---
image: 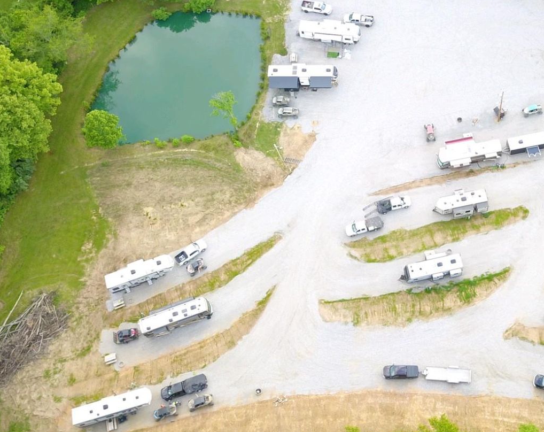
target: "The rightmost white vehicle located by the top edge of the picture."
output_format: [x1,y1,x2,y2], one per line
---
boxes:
[344,13,375,26]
